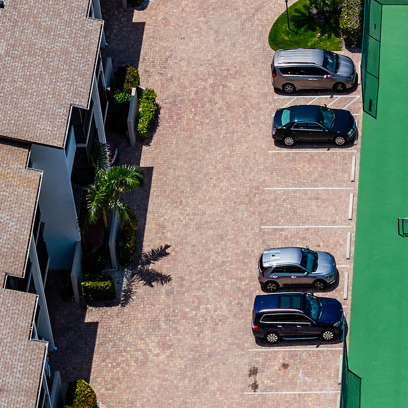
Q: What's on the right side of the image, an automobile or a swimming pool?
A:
automobile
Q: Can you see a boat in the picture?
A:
No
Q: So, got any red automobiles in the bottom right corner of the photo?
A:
No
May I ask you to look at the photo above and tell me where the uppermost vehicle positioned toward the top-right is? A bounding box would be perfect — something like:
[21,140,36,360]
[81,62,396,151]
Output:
[272,45,358,94]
